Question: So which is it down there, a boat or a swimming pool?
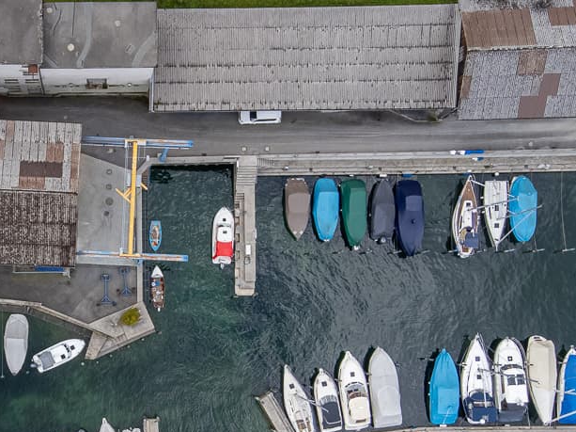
boat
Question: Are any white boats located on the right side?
Yes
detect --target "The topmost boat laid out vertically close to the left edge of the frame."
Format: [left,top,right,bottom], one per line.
[4,313,31,376]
